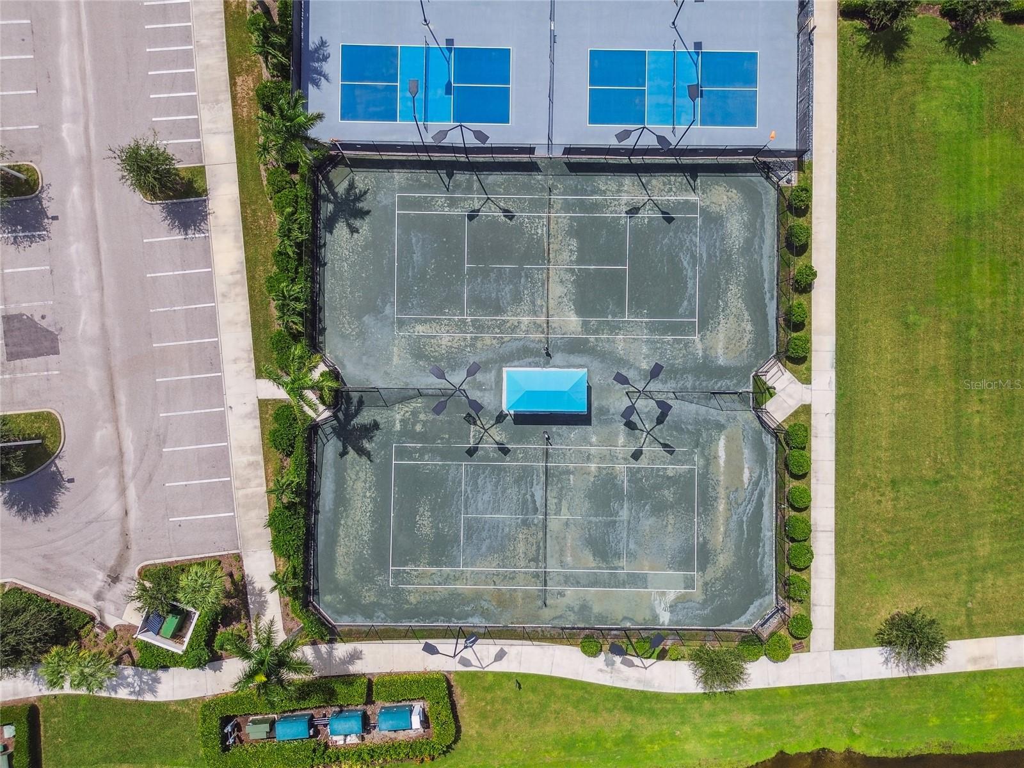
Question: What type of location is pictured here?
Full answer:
The area seen from above is a sports ground.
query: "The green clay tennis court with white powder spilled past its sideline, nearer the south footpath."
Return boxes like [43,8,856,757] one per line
[313,390,777,629]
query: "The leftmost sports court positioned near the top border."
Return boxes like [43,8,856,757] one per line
[302,0,551,156]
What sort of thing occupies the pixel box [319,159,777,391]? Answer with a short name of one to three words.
tennis court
